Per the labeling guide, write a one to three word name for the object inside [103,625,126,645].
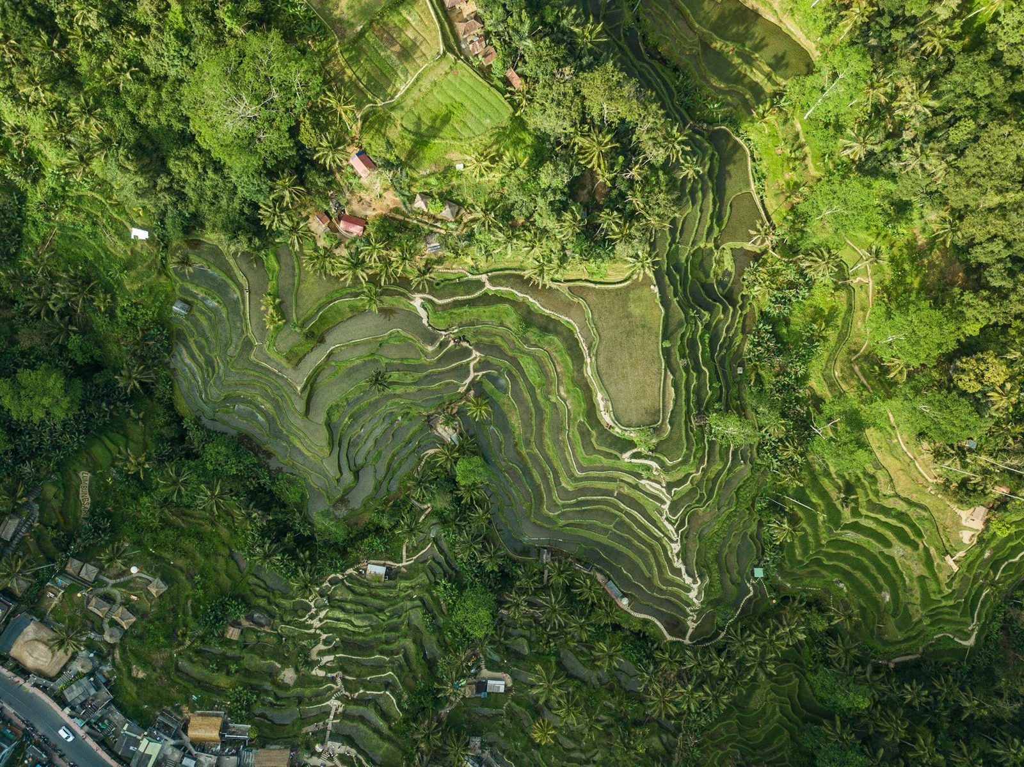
shed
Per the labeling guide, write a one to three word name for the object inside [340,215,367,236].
house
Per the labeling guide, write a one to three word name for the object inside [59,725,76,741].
car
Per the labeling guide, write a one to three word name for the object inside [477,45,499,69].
house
